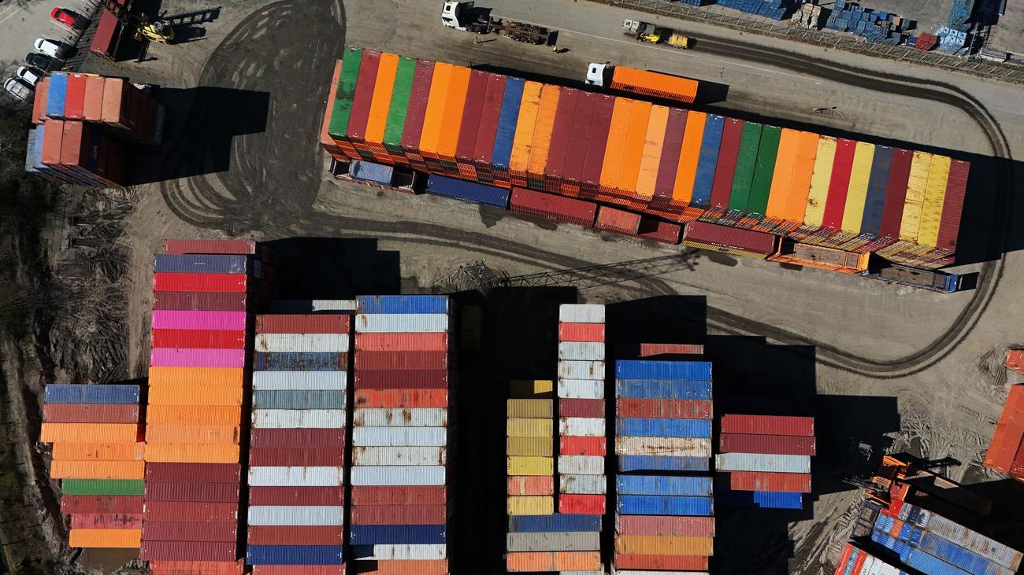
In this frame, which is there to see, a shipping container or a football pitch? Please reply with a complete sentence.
Visible in the photo is a shipping container.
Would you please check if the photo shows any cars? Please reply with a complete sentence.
Yes, the image includes a car.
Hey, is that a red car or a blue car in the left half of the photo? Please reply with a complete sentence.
You can see a red car in the left half of the photo.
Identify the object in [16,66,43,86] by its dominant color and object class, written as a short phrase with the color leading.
white car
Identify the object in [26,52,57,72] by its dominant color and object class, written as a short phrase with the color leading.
black car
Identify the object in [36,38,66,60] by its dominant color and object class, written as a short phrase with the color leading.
white car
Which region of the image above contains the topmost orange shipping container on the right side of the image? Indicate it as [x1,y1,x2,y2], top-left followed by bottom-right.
[613,58,699,95]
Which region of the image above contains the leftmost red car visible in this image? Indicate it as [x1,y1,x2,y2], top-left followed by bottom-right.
[51,8,82,29]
